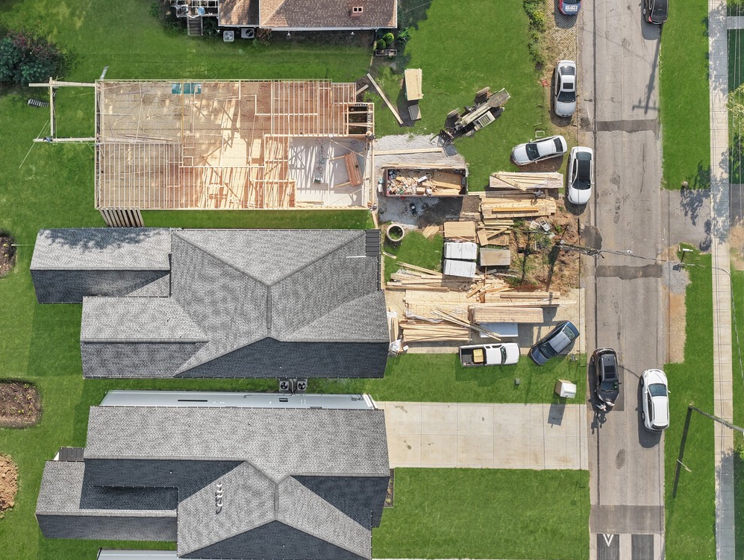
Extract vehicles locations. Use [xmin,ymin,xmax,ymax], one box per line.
[636,368,672,433]
[549,58,581,118]
[555,0,584,18]
[426,86,517,153]
[637,0,669,24]
[588,345,624,411]
[455,341,520,370]
[525,316,581,368]
[507,134,569,167]
[562,145,596,205]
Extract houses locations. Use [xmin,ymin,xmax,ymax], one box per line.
[217,0,398,35]
[29,226,389,379]
[35,390,389,560]
[94,79,374,210]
